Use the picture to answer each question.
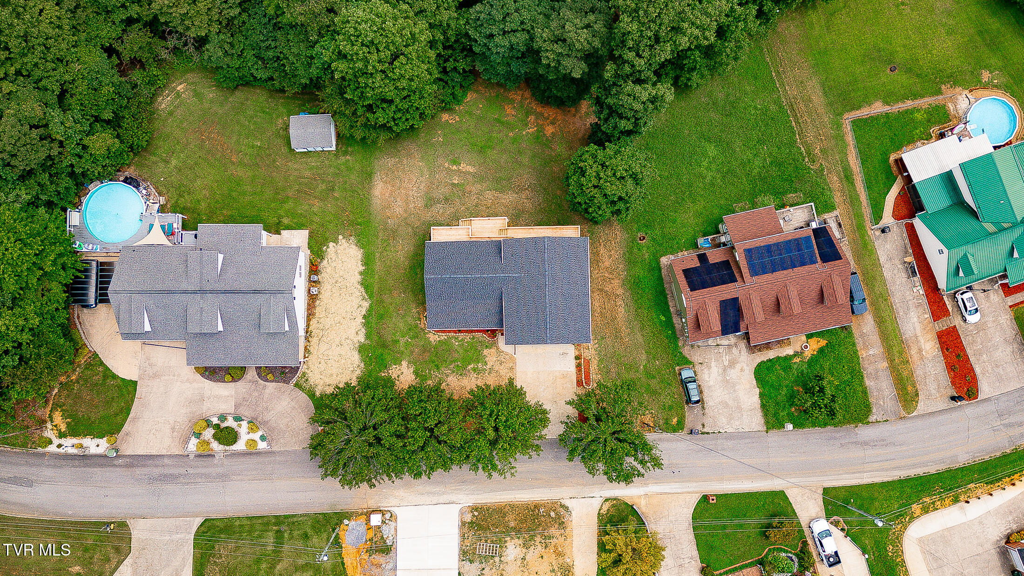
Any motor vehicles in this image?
Yes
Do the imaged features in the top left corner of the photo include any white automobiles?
No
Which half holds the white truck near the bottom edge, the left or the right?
right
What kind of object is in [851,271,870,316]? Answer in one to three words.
vehicle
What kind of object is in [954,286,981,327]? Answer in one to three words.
car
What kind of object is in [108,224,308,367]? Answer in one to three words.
house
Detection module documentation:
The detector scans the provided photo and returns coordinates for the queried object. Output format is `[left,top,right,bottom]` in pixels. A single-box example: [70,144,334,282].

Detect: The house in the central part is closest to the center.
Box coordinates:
[424,237,592,345]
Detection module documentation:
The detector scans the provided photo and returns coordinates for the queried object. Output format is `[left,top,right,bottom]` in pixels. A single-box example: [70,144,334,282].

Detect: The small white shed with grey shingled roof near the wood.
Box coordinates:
[290,114,337,153]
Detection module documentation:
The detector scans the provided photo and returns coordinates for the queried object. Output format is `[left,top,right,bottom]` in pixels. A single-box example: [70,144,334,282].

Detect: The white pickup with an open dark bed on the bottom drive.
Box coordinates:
[809,516,845,571]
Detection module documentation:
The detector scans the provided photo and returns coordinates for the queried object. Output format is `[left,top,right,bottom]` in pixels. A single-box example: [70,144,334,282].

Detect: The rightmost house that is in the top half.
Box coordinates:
[904,146,1024,293]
